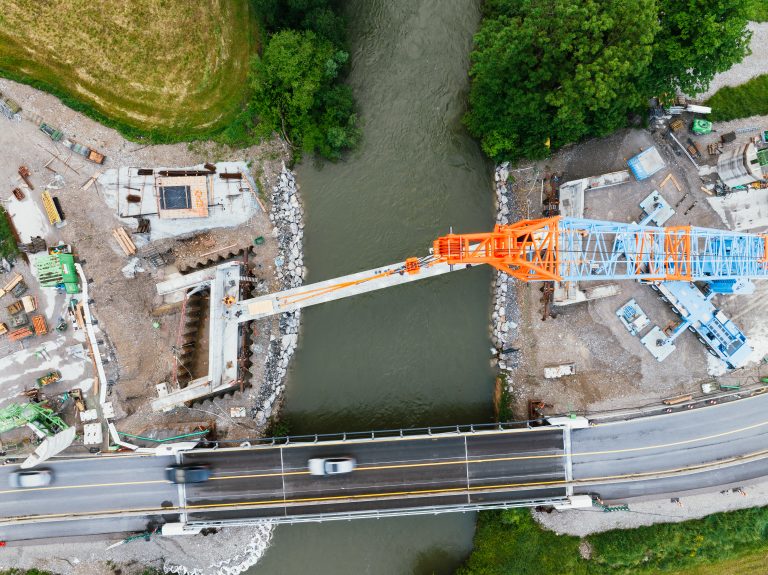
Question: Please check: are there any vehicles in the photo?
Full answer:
Yes, the photo shows a vehicle.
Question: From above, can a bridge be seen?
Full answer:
Yes, looking at the shot, I can spot a bridge.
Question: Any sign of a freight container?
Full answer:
Yes, this view includes a freight container.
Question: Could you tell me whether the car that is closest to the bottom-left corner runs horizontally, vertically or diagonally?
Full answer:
The car that is closest to the bottom-left corner runs horizontally in the image.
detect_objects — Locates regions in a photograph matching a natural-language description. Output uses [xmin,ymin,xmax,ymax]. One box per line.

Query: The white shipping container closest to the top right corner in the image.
[618,146,665,184]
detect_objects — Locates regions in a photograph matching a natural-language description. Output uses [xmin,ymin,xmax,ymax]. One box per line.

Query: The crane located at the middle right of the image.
[404,205,768,370]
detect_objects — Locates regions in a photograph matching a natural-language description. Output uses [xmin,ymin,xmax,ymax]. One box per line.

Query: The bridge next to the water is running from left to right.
[160,416,593,534]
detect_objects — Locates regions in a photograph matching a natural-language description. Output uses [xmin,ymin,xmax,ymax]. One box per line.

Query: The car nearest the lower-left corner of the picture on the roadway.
[10,466,56,492]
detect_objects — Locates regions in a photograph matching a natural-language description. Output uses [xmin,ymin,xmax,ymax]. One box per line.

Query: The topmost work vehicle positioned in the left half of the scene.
[68,382,92,418]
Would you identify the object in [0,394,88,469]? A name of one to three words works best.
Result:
crane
